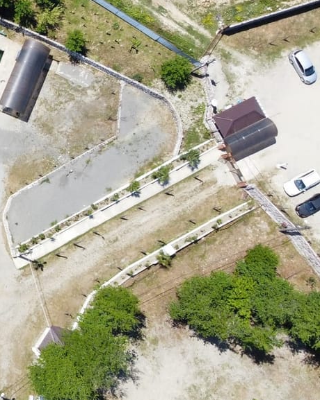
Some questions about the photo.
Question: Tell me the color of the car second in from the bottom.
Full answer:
The color of the car second in from the bottom is white.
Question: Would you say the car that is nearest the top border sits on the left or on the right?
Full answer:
The car that is nearest the top border sits on the right side.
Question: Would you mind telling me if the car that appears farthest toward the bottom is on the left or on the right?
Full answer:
It is on the right.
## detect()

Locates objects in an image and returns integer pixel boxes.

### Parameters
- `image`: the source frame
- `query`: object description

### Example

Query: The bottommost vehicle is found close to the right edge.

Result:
[293,194,320,218]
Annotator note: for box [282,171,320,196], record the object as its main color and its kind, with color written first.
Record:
white car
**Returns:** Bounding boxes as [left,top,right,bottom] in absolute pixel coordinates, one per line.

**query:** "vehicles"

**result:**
[289,51,315,83]
[282,171,320,196]
[293,194,320,218]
